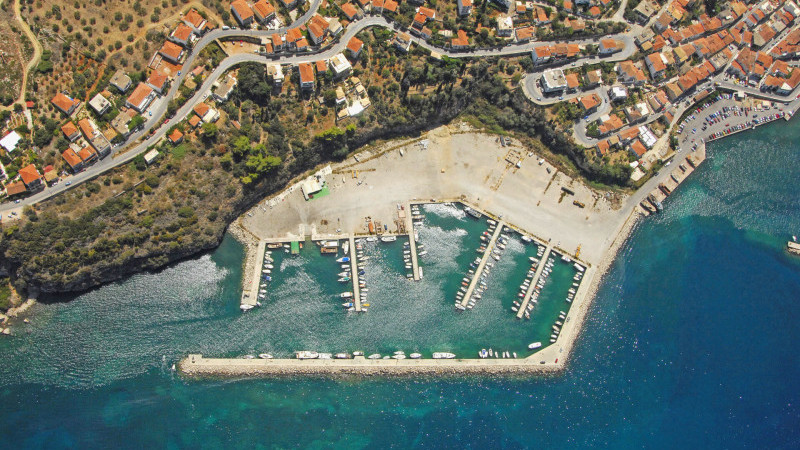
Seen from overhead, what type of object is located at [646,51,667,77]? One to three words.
house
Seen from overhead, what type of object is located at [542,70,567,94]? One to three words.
house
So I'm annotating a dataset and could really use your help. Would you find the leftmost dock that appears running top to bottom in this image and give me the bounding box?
[241,242,266,305]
